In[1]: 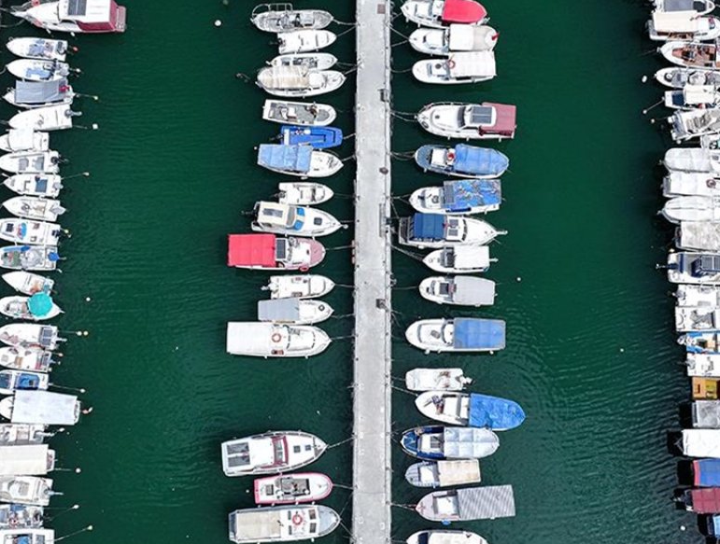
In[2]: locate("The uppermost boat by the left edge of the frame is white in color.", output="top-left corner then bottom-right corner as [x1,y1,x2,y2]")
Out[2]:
[0,0,130,37]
